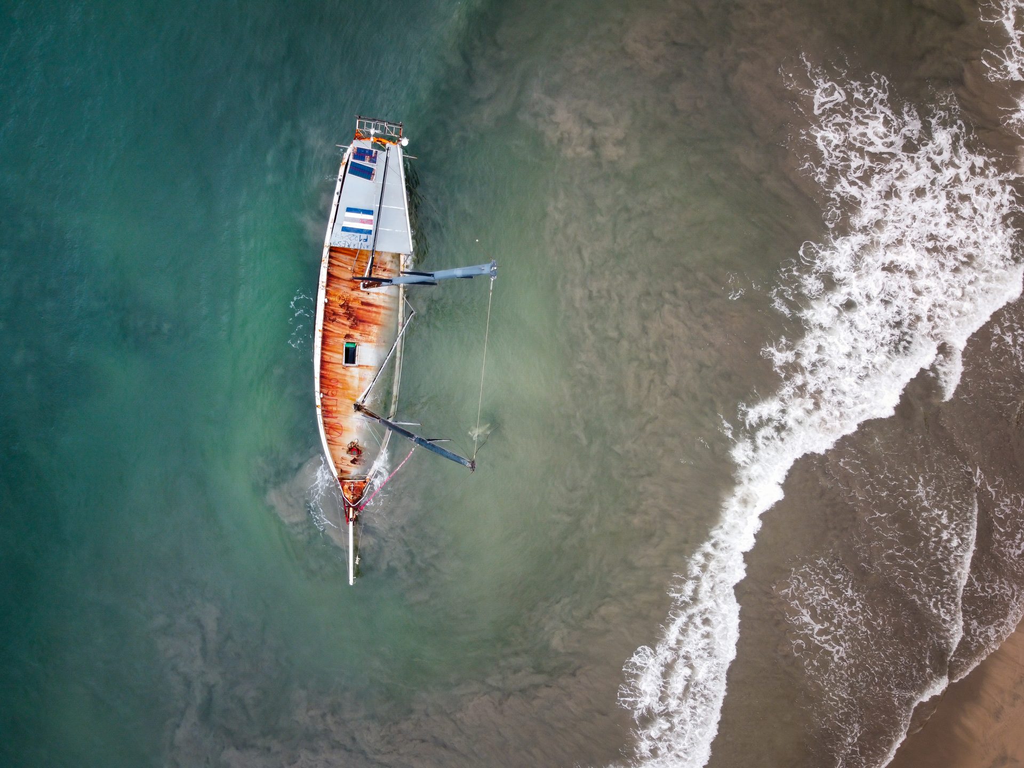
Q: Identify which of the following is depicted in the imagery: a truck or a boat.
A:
boat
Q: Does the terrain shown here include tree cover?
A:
No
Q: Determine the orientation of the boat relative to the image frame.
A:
vertically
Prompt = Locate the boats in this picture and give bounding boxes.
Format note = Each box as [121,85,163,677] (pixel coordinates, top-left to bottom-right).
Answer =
[314,116,508,585]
